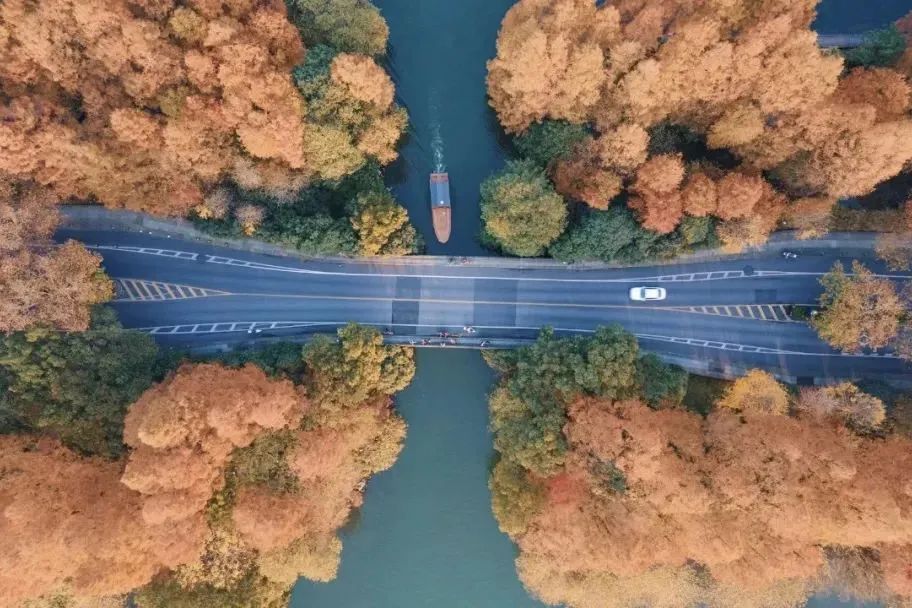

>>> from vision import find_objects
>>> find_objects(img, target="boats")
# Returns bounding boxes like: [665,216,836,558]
[430,171,451,243]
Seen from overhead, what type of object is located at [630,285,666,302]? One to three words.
car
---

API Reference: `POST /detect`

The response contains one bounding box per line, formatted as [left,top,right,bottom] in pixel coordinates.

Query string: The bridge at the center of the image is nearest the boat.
[395,256,510,351]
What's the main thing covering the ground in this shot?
trees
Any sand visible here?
No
